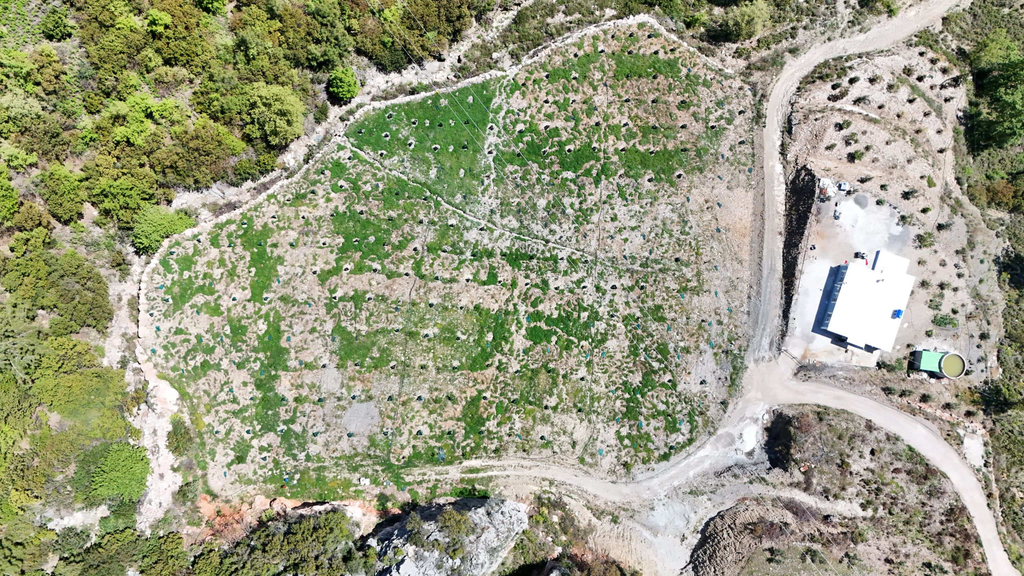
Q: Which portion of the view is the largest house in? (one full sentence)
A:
The largest house is located in the right region of the scene.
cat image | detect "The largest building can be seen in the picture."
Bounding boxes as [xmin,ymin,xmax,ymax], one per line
[818,250,915,352]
